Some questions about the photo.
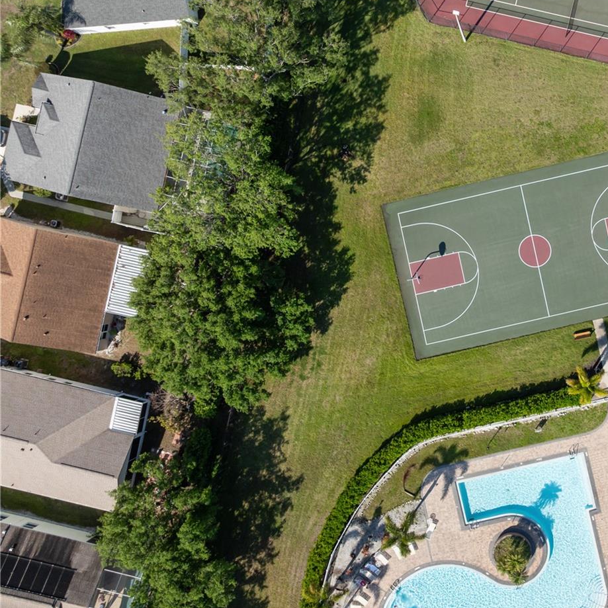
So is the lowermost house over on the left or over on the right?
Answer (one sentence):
The lowermost house sits on the left side.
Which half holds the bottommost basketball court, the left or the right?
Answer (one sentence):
The bottommost basketball court appears in the right half of the scene.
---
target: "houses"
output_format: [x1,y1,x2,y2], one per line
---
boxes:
[0,222,147,354]
[0,514,131,608]
[0,367,157,511]
[3,73,243,210]
[62,0,197,32]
